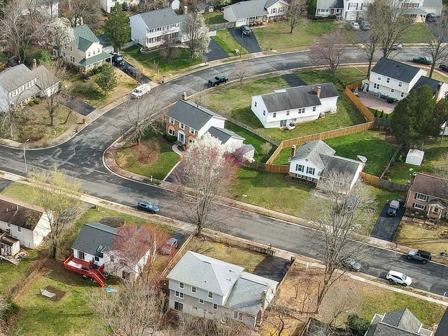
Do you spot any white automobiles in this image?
Yes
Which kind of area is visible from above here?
residential area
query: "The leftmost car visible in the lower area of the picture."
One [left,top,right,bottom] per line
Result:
[135,196,160,212]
